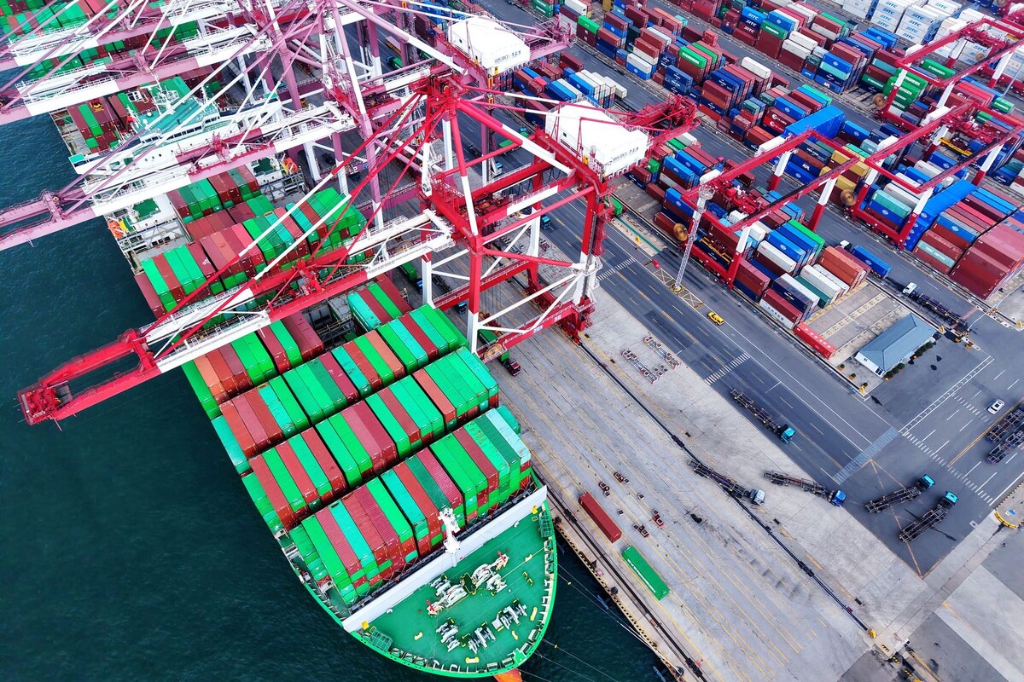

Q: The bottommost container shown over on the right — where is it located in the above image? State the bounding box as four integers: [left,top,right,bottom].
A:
[622,547,670,602]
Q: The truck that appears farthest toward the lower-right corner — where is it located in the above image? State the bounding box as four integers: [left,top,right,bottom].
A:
[906,491,963,537]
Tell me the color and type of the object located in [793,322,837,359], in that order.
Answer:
red shipping container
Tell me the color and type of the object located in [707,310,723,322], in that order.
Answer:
yellow vehicle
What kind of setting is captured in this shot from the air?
port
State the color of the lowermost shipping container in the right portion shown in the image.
green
